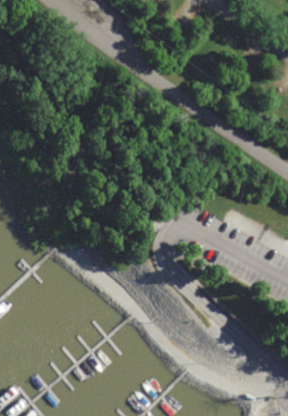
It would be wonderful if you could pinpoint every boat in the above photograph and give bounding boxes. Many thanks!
[42,390,58,408]
[0,300,11,316]
[135,391,152,408]
[2,394,32,416]
[74,365,88,380]
[24,406,41,416]
[0,384,21,410]
[143,407,153,416]
[79,358,96,378]
[86,353,102,372]
[150,377,162,392]
[96,350,112,366]
[32,374,46,392]
[142,382,158,399]
[158,399,175,416]
[129,397,144,413]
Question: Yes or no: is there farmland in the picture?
No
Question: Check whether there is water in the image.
Yes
